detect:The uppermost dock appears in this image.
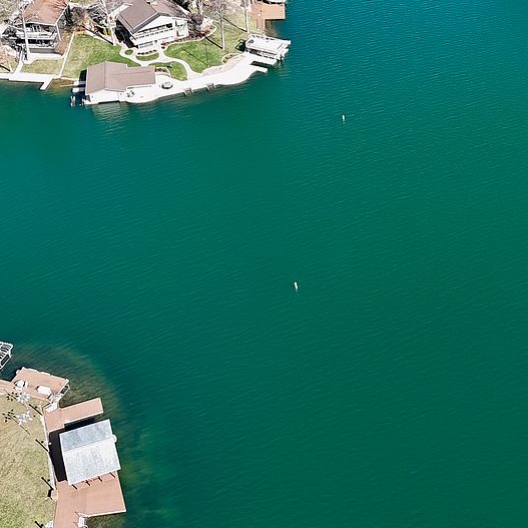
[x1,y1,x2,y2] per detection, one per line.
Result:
[252,3,285,33]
